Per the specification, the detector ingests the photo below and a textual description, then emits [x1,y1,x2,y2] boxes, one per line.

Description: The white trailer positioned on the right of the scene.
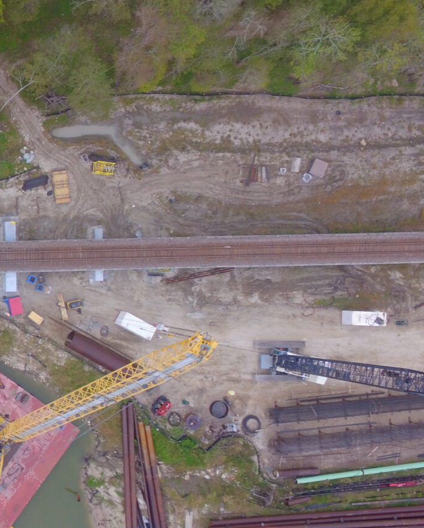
[337,310,388,325]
